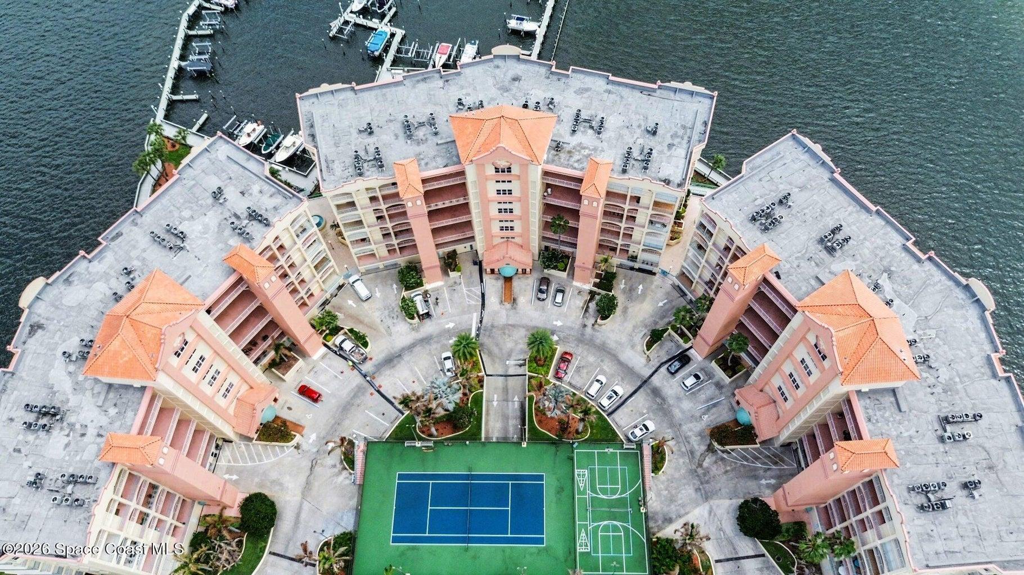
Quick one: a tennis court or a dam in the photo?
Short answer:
tennis court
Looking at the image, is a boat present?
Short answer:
Yes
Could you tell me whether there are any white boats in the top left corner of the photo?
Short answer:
Yes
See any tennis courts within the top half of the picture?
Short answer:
No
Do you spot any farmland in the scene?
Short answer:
No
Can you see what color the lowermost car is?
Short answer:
white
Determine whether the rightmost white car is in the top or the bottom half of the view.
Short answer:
bottom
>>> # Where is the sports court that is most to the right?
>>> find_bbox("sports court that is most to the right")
[575,446,651,575]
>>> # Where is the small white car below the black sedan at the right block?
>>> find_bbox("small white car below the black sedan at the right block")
[678,371,706,392]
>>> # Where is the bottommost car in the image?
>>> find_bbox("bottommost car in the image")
[629,418,655,444]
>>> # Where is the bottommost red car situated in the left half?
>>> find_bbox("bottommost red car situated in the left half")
[297,385,324,404]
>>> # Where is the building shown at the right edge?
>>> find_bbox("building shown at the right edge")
[670,128,1024,575]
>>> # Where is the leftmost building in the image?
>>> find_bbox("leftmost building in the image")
[0,130,345,575]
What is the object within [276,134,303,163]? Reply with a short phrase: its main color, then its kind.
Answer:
white boat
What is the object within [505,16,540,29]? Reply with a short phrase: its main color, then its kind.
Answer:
white boat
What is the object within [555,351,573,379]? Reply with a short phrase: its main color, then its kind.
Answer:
red car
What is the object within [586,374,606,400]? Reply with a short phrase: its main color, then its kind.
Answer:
white car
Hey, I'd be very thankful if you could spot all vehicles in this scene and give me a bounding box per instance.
[411,292,430,317]
[666,353,693,376]
[599,385,623,412]
[555,351,573,379]
[297,385,324,404]
[348,275,372,301]
[678,371,706,392]
[442,352,456,378]
[629,418,655,444]
[536,277,550,301]
[337,335,366,362]
[586,374,606,400]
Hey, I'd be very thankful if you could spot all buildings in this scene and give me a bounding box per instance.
[670,128,1024,575]
[0,130,345,575]
[296,45,718,305]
